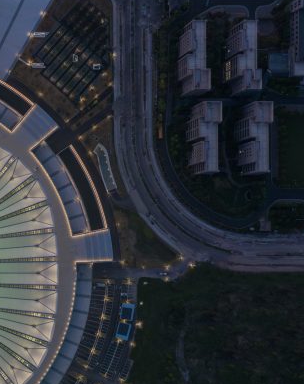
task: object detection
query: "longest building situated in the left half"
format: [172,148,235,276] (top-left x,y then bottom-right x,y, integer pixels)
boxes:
[93,143,117,192]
